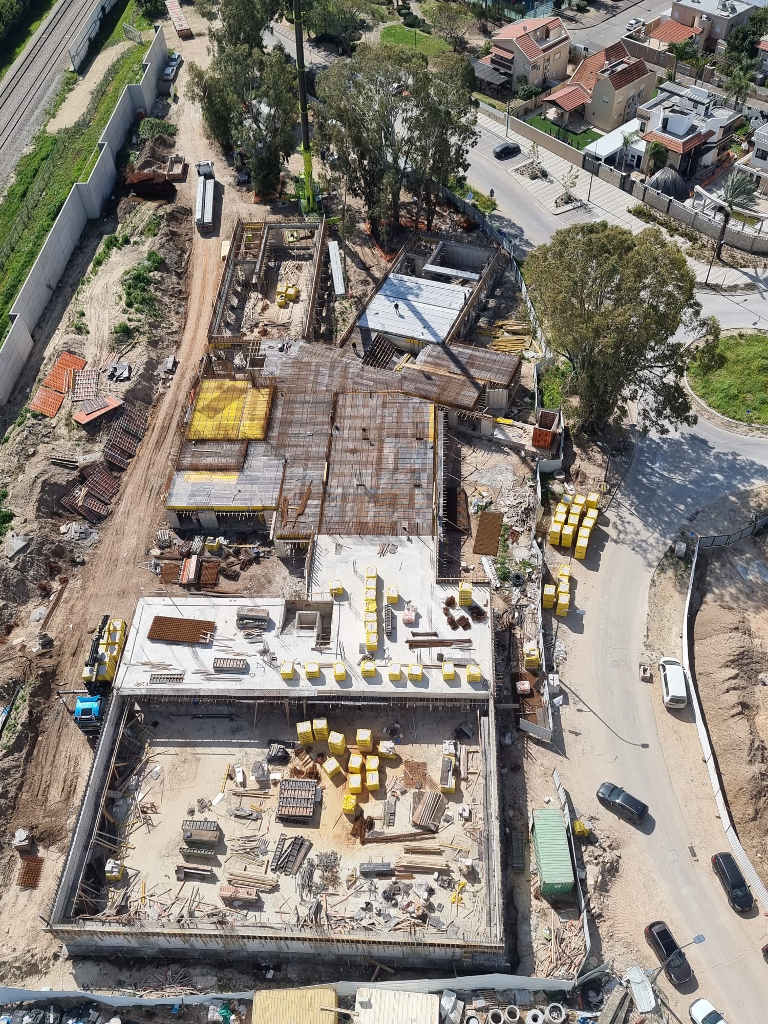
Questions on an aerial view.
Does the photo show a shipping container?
Yes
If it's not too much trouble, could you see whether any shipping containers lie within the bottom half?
Yes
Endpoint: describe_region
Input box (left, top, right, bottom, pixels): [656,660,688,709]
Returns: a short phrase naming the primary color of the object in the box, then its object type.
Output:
white car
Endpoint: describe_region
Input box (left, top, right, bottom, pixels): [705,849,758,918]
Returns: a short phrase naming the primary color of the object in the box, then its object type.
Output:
black car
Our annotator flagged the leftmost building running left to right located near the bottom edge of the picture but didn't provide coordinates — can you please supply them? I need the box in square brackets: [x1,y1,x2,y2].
[253,988,342,1024]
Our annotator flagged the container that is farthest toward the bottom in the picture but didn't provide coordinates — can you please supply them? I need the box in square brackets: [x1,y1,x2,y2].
[530,807,574,894]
